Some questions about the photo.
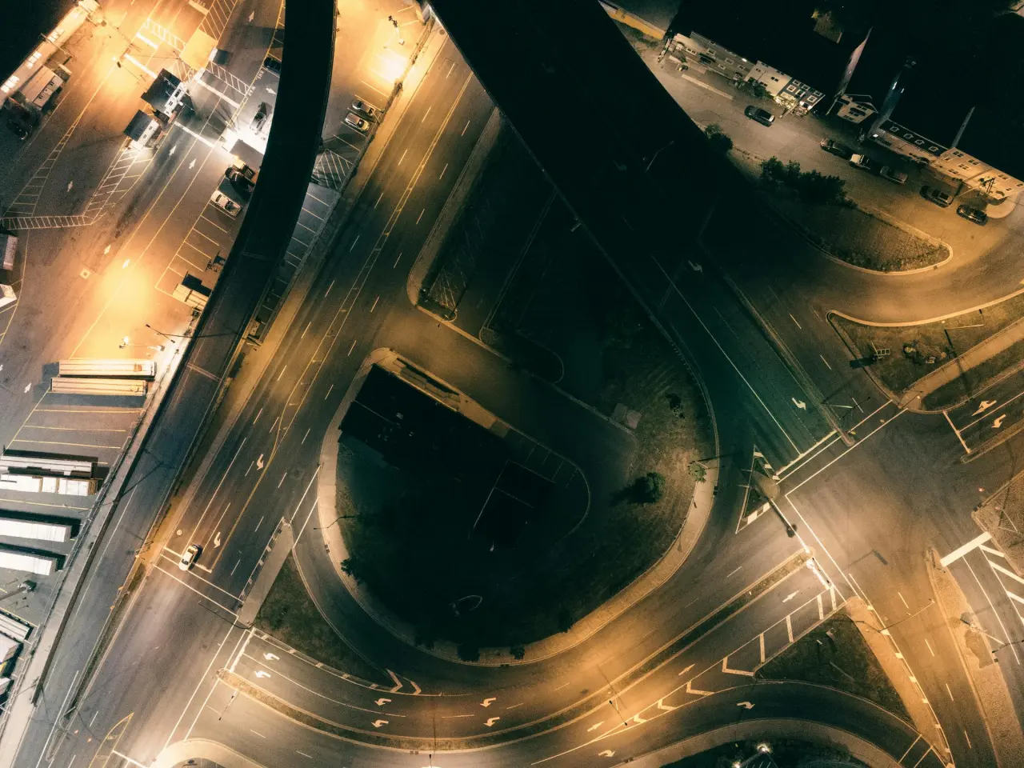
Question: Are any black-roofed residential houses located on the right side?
Yes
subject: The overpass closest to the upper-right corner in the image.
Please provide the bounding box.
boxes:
[428,0,763,303]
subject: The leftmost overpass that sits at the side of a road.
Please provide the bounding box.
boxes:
[24,0,341,705]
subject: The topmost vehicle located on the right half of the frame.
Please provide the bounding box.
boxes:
[744,106,774,127]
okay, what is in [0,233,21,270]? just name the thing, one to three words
trailer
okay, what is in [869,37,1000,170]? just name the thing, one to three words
house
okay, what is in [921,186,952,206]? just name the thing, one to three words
car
